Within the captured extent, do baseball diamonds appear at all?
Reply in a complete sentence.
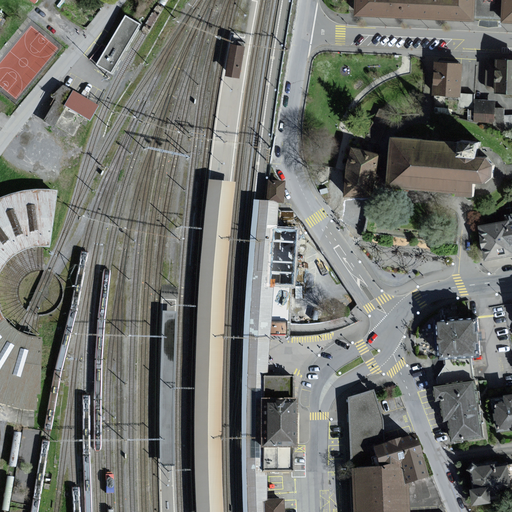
No, there isn't any baseball diamond down there.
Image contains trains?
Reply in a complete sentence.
Yes, there is a train in the image.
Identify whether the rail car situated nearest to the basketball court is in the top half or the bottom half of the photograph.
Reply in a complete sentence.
You can find the rail car situated nearest to the basketball court in the top half.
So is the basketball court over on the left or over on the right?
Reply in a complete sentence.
It is on the left.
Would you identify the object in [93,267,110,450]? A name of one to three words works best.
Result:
train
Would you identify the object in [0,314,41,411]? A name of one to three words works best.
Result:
shed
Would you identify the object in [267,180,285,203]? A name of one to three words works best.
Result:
building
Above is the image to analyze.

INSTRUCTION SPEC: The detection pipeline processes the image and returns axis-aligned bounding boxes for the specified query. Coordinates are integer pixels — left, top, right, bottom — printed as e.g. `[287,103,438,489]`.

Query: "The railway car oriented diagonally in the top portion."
[140,4,163,35]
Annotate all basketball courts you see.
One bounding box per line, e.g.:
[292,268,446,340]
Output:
[0,26,58,98]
